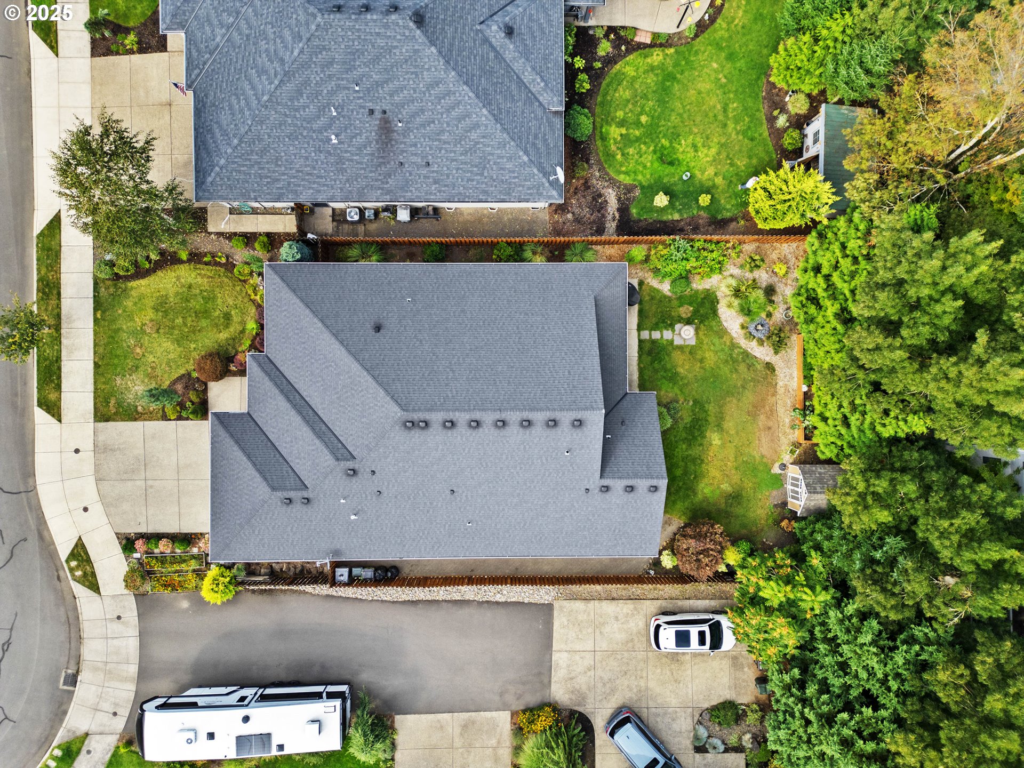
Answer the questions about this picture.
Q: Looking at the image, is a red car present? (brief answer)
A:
No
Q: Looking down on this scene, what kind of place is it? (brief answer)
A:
residential area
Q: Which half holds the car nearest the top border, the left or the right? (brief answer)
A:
right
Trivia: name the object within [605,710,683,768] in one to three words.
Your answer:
car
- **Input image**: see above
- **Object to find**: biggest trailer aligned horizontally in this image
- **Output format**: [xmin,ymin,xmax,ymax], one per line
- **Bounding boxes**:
[134,677,355,759]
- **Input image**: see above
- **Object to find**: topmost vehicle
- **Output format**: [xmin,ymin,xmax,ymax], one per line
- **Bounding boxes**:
[648,609,738,657]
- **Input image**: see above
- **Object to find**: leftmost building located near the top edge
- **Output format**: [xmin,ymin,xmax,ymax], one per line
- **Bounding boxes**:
[157,0,566,211]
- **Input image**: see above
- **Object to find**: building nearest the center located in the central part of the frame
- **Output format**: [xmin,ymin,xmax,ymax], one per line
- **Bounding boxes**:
[207,261,668,564]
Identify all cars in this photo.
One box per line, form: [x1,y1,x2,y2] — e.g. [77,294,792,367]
[605,710,683,768]
[648,609,738,657]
